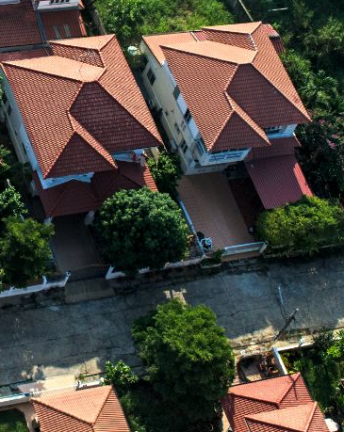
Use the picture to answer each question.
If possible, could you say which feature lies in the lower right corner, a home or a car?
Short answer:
home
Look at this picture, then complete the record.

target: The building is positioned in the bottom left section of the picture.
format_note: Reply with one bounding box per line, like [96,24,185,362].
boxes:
[25,383,129,432]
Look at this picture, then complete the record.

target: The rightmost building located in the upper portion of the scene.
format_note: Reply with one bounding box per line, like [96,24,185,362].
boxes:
[135,22,321,228]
